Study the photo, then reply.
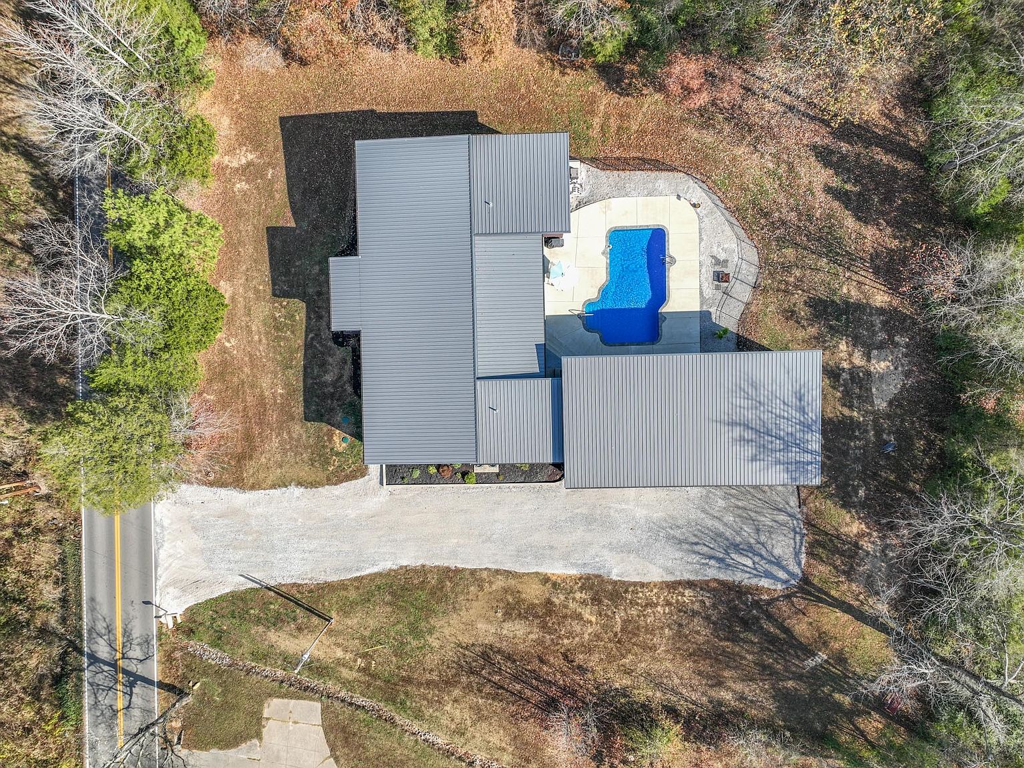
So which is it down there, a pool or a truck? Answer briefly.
pool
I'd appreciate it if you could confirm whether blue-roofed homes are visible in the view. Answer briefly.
No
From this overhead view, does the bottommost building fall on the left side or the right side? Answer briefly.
right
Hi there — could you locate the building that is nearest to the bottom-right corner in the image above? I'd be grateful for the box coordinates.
[563,351,824,490]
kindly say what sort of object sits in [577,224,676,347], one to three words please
swimming pool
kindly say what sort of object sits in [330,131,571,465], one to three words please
house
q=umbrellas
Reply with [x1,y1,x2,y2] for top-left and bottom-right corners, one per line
[547,260,576,289]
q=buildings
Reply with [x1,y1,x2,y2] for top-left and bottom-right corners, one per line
[563,351,824,490]
[330,131,571,465]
